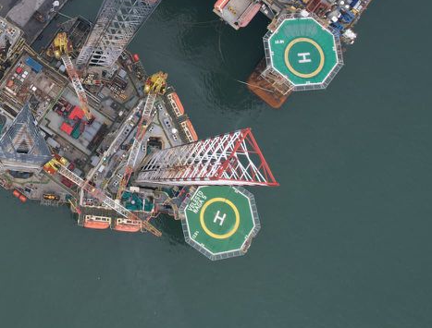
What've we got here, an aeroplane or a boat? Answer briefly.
boat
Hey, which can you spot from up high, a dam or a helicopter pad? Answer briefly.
helicopter pad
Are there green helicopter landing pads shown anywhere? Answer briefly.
Yes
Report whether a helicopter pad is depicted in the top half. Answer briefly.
Yes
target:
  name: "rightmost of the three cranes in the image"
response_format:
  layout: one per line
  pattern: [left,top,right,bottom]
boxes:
[114,68,166,208]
